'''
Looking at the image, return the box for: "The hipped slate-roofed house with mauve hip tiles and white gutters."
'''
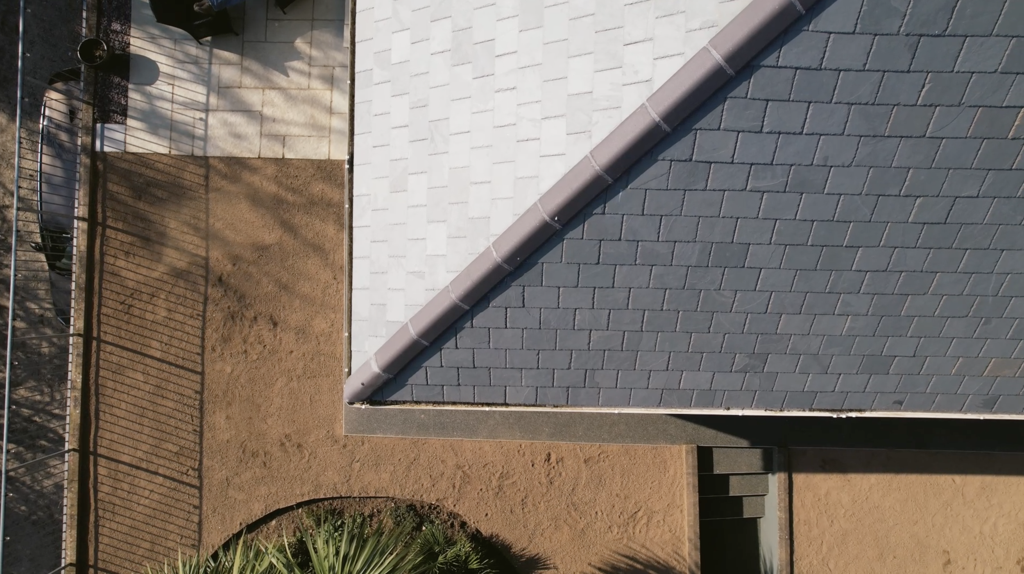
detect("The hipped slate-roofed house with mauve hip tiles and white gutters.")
[338,0,1024,421]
